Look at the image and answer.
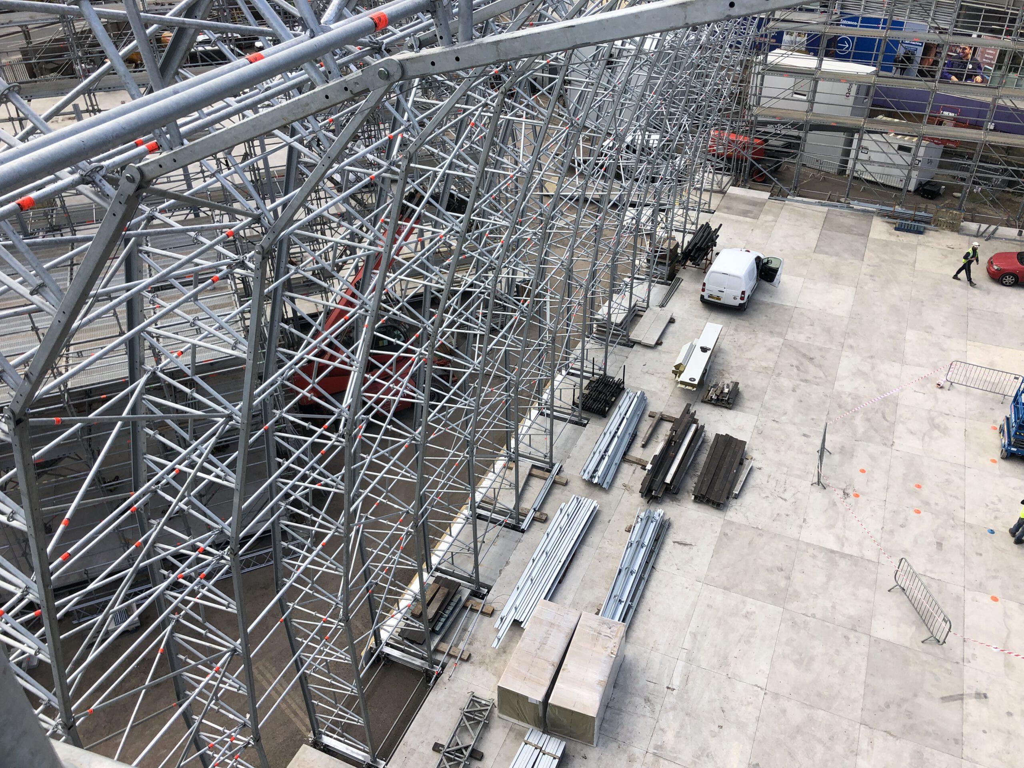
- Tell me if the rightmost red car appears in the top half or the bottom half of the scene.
top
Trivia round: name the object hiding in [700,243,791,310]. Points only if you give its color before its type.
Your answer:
white van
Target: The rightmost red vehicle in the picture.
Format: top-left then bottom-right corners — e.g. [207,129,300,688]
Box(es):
[983,250,1024,287]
